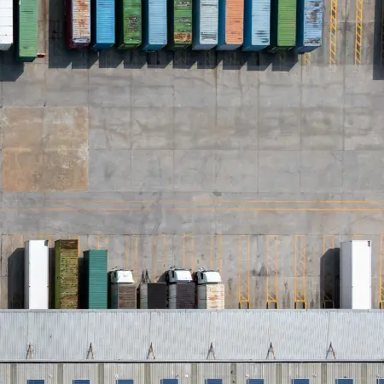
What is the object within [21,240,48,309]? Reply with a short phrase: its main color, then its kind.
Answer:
white trailer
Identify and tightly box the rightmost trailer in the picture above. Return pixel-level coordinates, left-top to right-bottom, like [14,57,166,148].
[335,240,372,309]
